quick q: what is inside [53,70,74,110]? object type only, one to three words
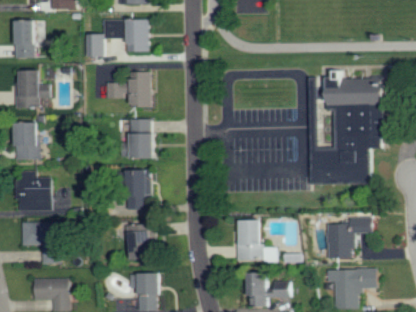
swimming pool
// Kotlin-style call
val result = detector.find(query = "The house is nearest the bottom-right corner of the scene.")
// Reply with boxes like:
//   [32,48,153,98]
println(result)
[328,270,377,310]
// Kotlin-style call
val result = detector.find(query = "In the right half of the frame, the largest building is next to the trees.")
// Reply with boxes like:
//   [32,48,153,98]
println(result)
[310,70,383,184]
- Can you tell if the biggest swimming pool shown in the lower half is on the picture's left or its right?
right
